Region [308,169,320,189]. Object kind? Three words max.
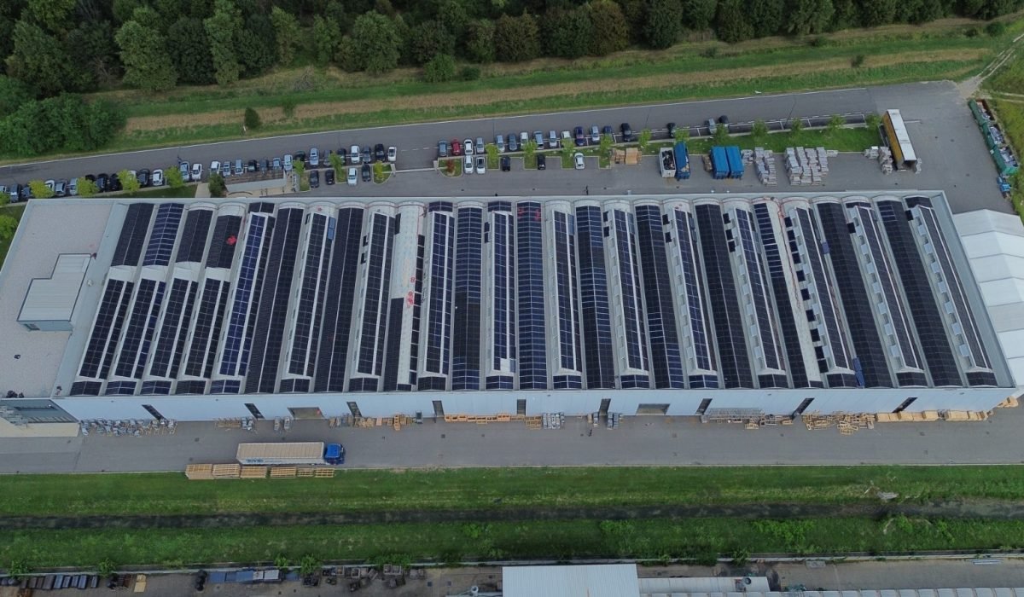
vehicle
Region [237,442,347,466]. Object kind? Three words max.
truck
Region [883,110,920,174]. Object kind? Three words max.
trailer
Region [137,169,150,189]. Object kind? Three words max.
vehicle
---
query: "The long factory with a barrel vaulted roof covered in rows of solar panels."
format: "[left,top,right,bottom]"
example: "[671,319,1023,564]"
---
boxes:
[0,190,1016,422]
